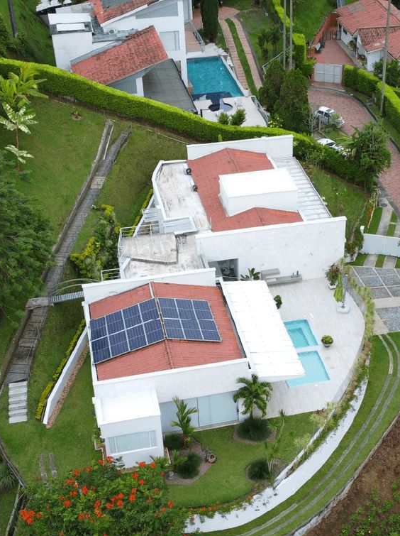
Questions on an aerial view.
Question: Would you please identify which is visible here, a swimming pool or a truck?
swimming pool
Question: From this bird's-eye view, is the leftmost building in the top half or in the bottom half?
top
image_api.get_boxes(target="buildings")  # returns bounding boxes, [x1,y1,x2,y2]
[336,0,400,98]
[81,133,348,478]
[47,0,205,125]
